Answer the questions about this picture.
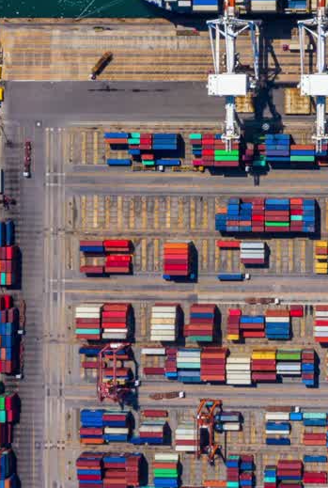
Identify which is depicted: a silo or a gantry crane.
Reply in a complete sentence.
The one in the frame is a gantry crane.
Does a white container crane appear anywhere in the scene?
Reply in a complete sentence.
Yes, the picture does show a white container crane.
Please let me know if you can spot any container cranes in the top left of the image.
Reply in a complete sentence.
No, in the top left of the image there is no container crane.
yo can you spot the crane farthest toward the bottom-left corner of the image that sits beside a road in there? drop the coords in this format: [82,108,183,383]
[99,339,129,397]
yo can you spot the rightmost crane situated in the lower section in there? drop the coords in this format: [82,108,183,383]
[196,389,222,454]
